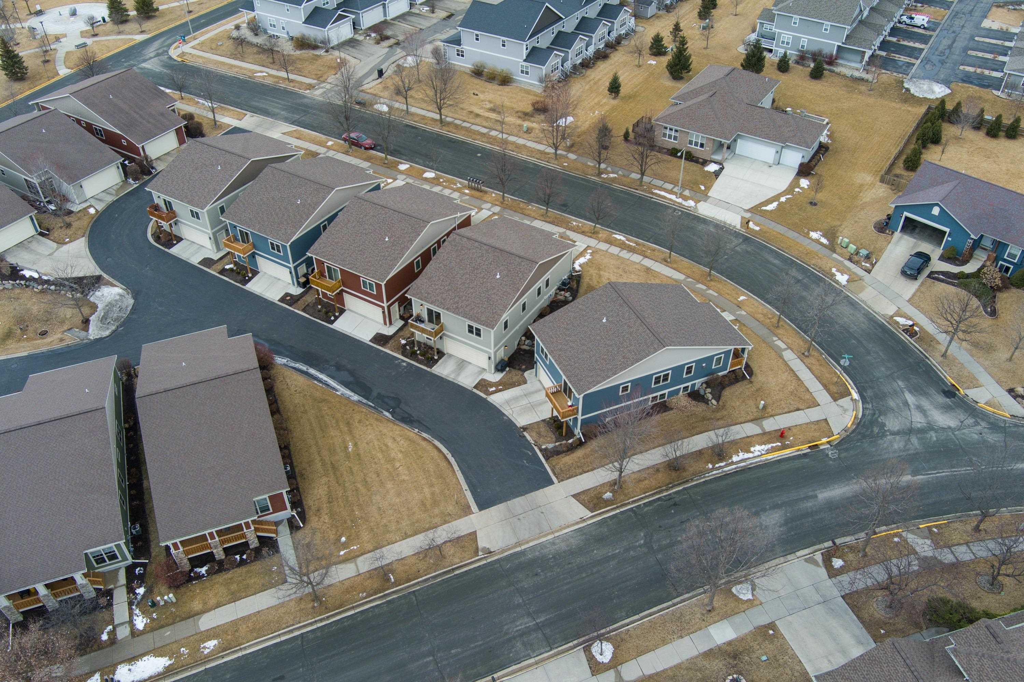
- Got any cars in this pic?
Yes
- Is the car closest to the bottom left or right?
right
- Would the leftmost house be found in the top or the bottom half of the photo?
top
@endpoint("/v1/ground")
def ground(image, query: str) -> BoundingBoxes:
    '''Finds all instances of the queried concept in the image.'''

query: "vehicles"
[900,12,932,28]
[342,131,375,149]
[901,252,931,278]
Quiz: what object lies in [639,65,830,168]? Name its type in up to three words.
house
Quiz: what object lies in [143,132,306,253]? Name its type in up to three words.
house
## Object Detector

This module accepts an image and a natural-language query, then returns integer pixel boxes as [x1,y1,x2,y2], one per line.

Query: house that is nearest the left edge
[0,183,53,253]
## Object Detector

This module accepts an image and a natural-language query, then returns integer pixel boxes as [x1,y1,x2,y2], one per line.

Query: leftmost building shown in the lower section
[0,359,155,623]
